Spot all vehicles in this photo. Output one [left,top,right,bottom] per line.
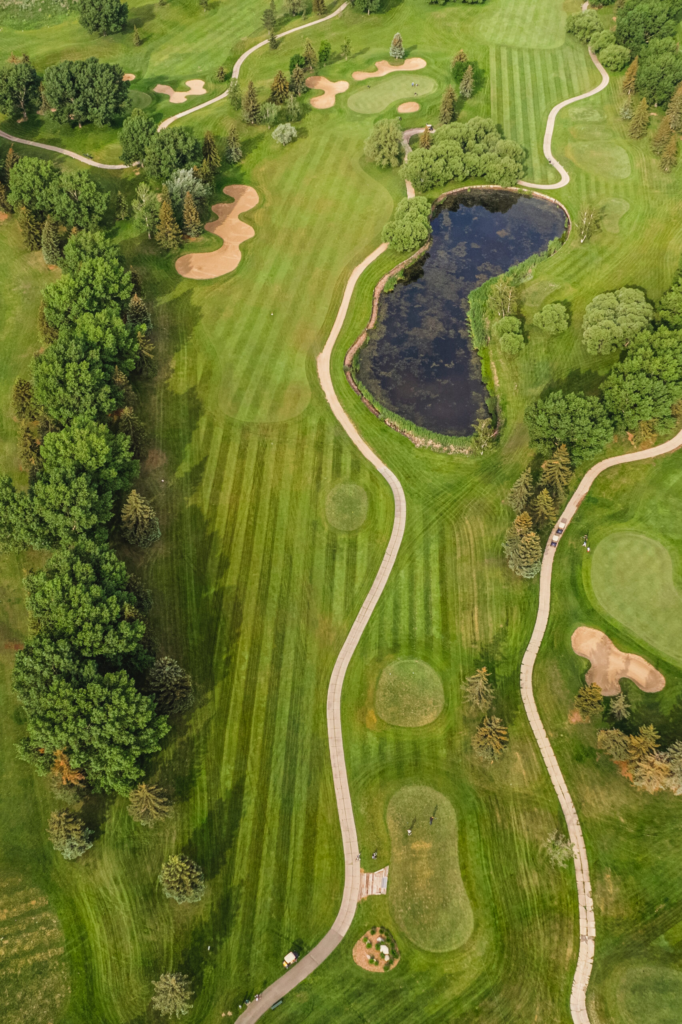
[549,532,559,547]
[280,948,299,968]
[555,520,565,534]
[425,122,433,131]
